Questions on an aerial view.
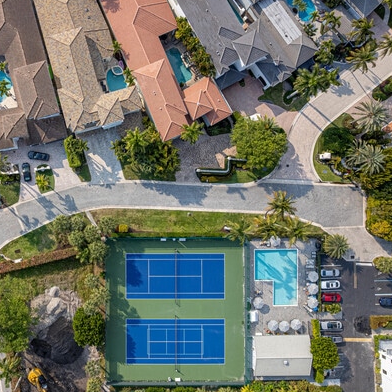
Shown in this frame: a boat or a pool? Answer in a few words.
pool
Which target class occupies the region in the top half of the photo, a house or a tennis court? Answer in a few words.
house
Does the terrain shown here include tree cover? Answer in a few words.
Yes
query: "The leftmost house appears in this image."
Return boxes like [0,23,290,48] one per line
[0,0,66,150]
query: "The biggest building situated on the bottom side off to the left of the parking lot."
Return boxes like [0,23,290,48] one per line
[247,332,313,377]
